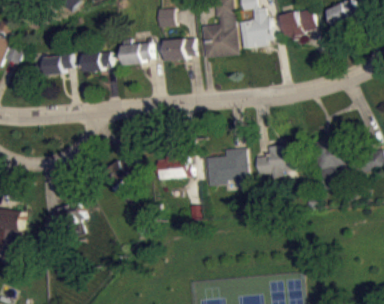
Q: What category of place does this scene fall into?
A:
residential area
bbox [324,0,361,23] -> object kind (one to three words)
house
